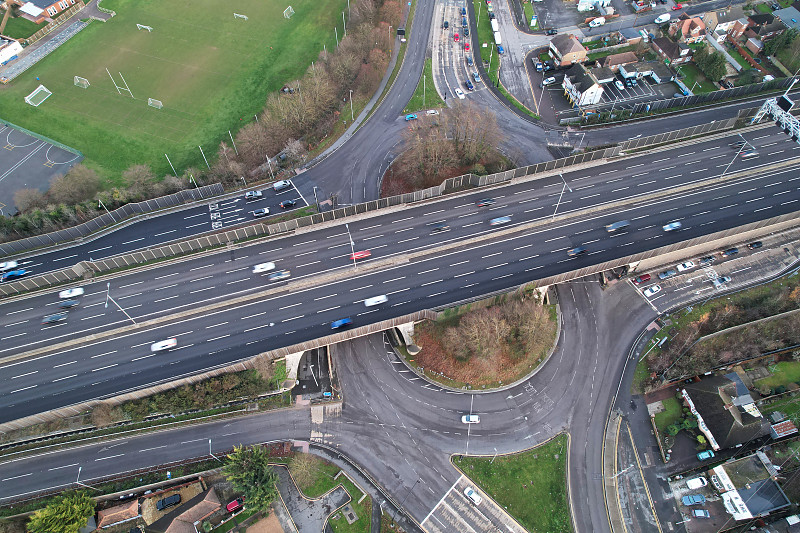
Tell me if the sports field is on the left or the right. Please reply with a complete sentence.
The sports field is on the left side of the image.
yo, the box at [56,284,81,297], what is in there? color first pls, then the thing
white vehicle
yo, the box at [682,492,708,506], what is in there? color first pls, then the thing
blue vehicle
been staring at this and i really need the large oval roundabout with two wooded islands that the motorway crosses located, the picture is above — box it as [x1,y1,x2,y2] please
[288,0,662,533]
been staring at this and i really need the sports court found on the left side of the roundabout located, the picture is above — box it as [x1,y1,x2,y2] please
[0,121,83,220]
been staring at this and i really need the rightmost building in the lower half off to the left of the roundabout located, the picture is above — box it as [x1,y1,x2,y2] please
[162,485,226,533]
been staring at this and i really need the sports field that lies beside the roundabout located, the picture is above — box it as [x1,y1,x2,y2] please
[0,0,347,199]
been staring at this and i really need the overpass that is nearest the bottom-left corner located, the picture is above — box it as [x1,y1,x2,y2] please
[284,208,420,396]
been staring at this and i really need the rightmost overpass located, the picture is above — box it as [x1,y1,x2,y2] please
[503,160,644,305]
